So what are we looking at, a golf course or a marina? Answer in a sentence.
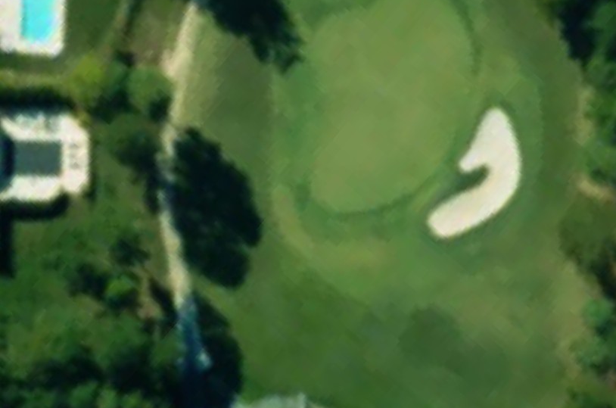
This image shows a golf course.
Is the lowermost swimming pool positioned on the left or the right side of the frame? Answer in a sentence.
The lowermost swimming pool is on the left side of the image.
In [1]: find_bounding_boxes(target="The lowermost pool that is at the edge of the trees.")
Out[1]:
[0,110,90,201]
